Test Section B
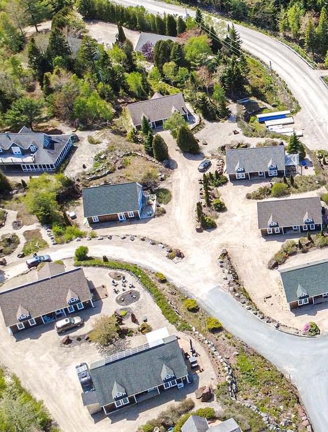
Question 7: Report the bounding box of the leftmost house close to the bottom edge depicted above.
[81,326,190,426]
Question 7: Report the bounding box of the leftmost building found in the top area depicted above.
[0,119,77,179]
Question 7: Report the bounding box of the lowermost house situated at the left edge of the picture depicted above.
[0,263,94,334]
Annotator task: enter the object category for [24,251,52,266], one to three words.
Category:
car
